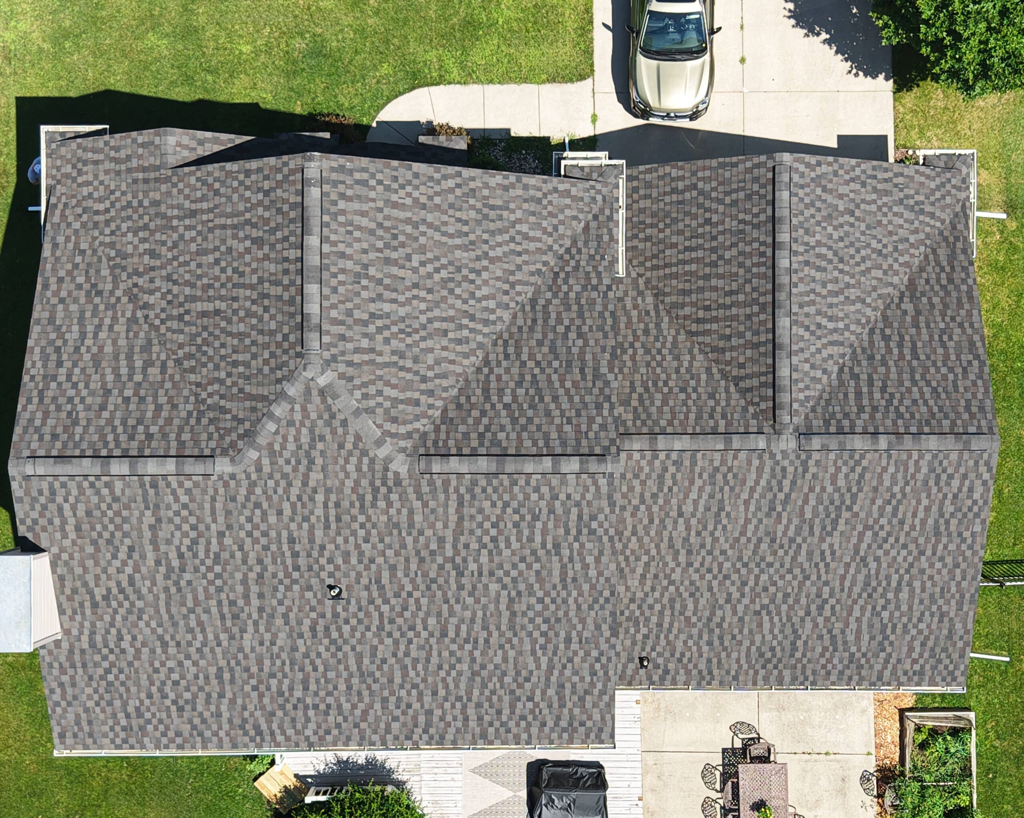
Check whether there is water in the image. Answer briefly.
No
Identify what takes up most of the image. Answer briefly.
buildings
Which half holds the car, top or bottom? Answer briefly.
top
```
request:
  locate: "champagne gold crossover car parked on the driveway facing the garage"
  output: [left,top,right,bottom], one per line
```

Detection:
[618,0,728,125]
